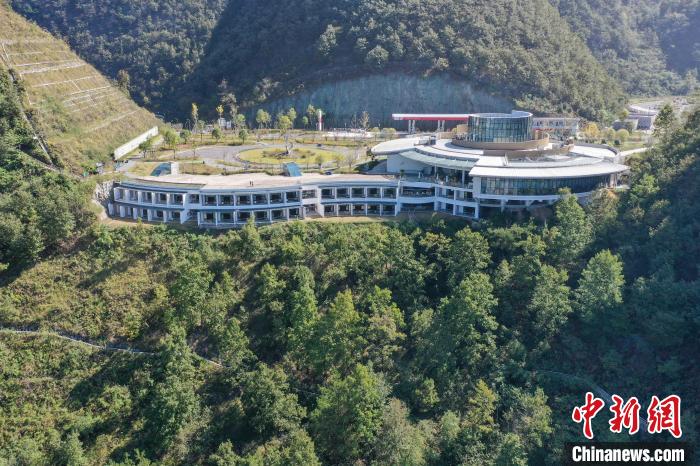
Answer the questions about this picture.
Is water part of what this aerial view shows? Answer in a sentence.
No, there is no water in the image.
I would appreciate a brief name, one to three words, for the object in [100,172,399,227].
building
